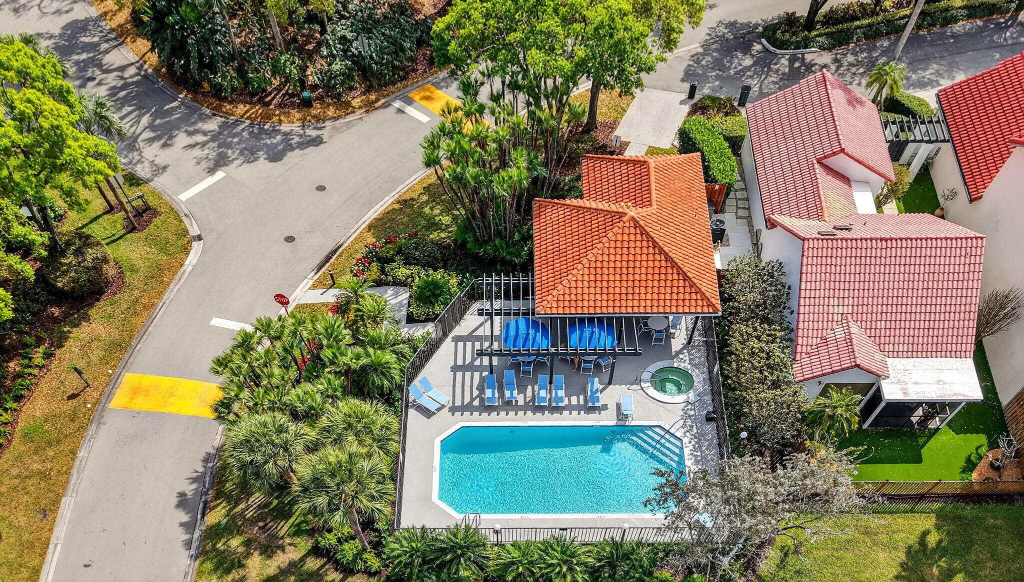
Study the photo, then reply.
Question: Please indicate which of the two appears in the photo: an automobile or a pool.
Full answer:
This aerial view contains a pool.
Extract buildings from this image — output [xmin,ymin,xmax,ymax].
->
[740,71,988,431]
[531,150,723,347]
